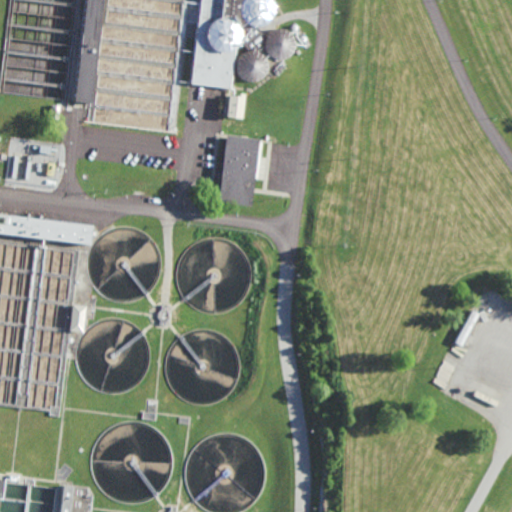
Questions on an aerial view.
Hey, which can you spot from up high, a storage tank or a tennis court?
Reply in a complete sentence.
It is a storage tank that can be seen here.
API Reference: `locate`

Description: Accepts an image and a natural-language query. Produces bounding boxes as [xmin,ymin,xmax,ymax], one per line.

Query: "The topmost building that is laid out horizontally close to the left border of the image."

[0,214,94,246]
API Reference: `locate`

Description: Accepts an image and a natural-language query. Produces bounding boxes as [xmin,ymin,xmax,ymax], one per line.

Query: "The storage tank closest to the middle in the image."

[176,237,252,313]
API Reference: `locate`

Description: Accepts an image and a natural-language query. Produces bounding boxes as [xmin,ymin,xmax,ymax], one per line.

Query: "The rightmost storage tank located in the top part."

[264,28,298,61]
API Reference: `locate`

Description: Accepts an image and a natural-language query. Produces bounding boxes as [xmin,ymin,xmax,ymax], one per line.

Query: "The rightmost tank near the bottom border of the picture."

[184,433,266,512]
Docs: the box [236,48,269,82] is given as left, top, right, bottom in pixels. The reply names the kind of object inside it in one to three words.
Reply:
storage tank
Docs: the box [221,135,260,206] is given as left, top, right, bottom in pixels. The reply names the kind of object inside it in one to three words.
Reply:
building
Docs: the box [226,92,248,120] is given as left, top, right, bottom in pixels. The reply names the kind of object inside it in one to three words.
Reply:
shed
